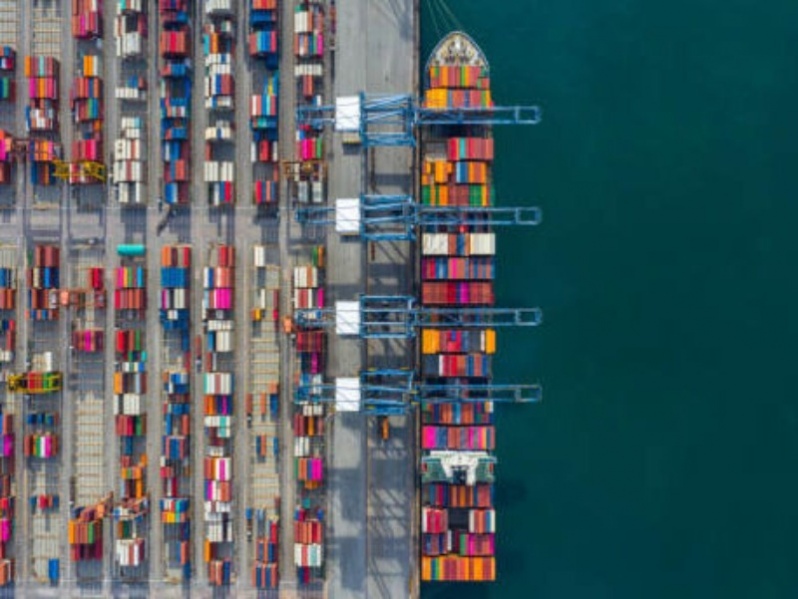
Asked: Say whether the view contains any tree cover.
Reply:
No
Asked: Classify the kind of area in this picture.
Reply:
port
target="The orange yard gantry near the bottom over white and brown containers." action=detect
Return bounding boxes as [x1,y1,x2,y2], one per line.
[94,493,149,520]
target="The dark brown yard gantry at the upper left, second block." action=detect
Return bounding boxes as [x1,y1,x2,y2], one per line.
[6,136,62,161]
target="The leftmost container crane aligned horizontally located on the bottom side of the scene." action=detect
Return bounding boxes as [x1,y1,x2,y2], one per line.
[6,369,62,392]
